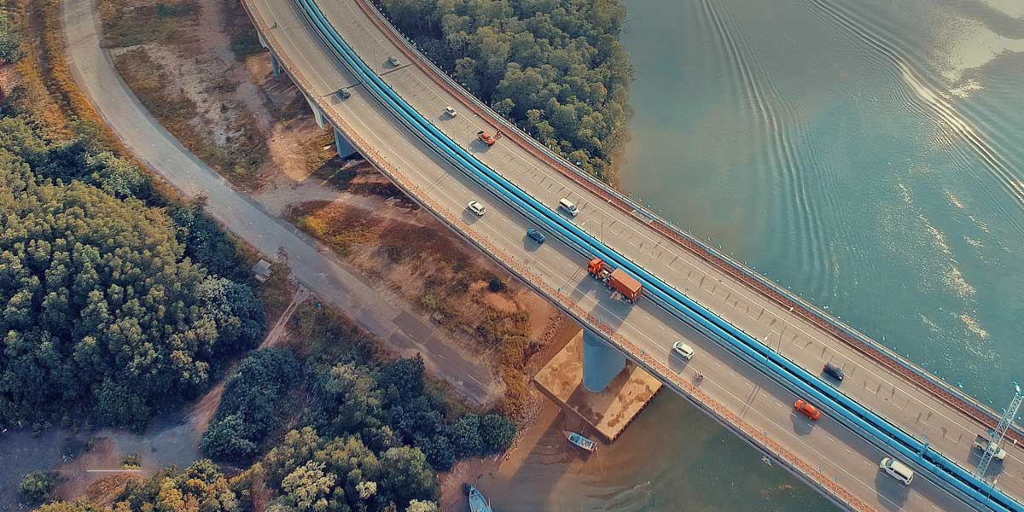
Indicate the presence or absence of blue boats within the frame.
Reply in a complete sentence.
Yes, I can see a blue boat in this picture.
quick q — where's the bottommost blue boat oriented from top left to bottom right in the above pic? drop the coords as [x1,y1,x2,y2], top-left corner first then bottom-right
[471,481,497,512]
